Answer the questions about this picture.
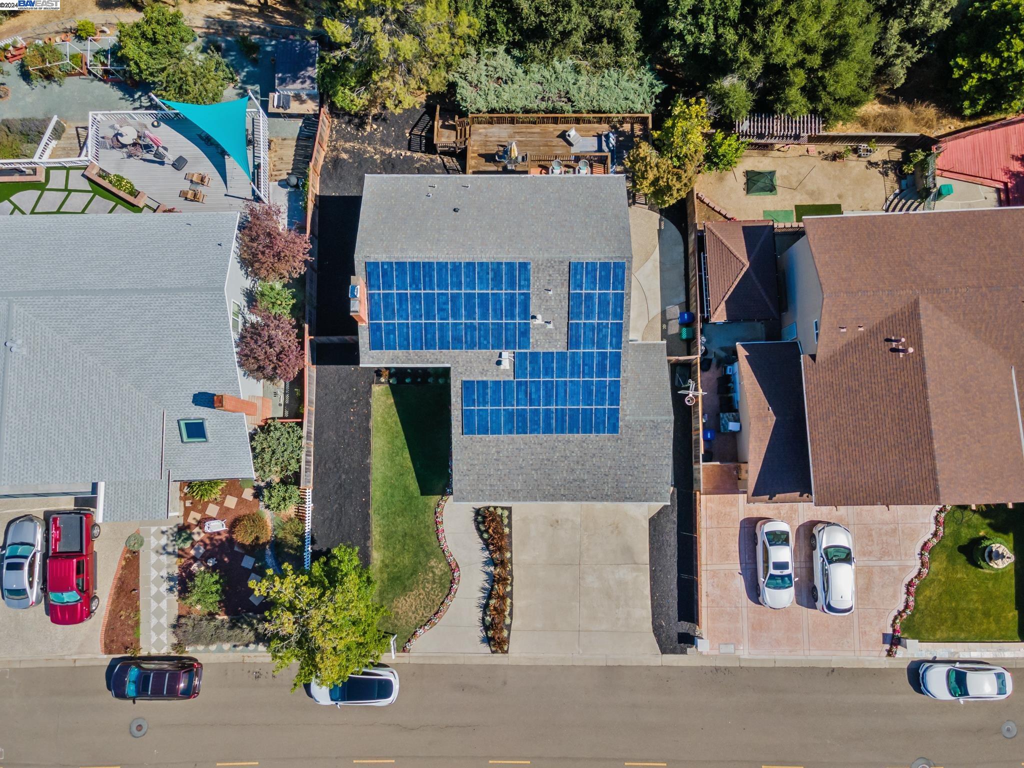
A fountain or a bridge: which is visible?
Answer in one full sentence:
I can see a fountain in this picture.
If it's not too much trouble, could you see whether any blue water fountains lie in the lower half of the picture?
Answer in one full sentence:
No, I see no blue water fountain in the lower half of the picture.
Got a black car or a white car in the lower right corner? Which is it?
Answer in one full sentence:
There is a white car in the lower right corner.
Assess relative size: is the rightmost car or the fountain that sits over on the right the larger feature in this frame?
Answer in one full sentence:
The car covers a greater area than the fountain.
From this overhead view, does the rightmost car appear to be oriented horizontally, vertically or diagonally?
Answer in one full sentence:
The rightmost car runs horizontally in the image.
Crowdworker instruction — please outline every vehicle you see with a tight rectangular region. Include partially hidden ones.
[110,658,207,706]
[915,659,1015,706]
[750,518,798,611]
[310,662,404,712]
[0,513,52,610]
[806,520,857,616]
[44,508,103,622]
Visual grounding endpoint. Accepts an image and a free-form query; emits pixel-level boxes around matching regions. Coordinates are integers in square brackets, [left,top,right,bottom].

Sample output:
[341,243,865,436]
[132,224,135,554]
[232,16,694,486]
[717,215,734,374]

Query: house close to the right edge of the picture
[737,213,1024,509]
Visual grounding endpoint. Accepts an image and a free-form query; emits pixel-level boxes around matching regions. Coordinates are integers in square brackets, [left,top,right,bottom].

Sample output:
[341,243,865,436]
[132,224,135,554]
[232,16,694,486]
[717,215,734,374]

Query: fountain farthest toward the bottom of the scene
[972,536,1018,575]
